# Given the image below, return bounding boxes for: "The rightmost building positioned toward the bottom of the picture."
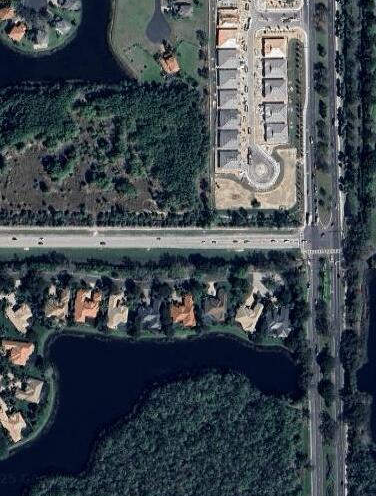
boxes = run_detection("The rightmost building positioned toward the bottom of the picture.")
[267,305,292,339]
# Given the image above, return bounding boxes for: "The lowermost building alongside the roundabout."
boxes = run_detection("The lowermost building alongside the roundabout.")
[218,150,239,169]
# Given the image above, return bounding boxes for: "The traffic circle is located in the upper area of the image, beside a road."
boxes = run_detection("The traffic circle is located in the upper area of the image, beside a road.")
[245,144,280,187]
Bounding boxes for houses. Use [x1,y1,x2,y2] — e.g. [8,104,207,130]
[218,110,238,128]
[0,407,27,443]
[264,39,286,57]
[33,29,50,46]
[218,70,237,88]
[53,16,74,36]
[219,130,238,148]
[2,305,34,337]
[0,6,15,20]
[265,103,287,121]
[218,150,239,169]
[218,50,237,67]
[218,30,237,48]
[267,305,292,339]
[1,340,38,362]
[19,375,47,404]
[61,0,85,10]
[45,289,70,321]
[264,60,286,77]
[169,297,195,331]
[106,294,129,332]
[265,124,287,142]
[218,9,238,28]
[219,90,238,108]
[7,20,27,43]
[233,297,263,335]
[160,51,183,75]
[136,304,162,336]
[73,290,100,326]
[264,80,286,98]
